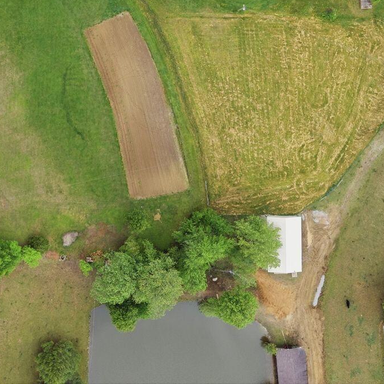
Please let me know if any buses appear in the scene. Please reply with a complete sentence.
No, this view has no bus in it.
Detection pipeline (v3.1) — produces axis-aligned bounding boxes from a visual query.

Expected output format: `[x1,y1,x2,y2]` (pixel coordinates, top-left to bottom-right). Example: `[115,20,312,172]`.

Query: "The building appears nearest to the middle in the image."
[265,214,302,275]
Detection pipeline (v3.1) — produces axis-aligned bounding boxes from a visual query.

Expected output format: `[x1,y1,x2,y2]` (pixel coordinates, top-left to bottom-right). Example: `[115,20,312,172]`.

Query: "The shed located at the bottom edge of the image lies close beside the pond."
[274,344,307,384]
